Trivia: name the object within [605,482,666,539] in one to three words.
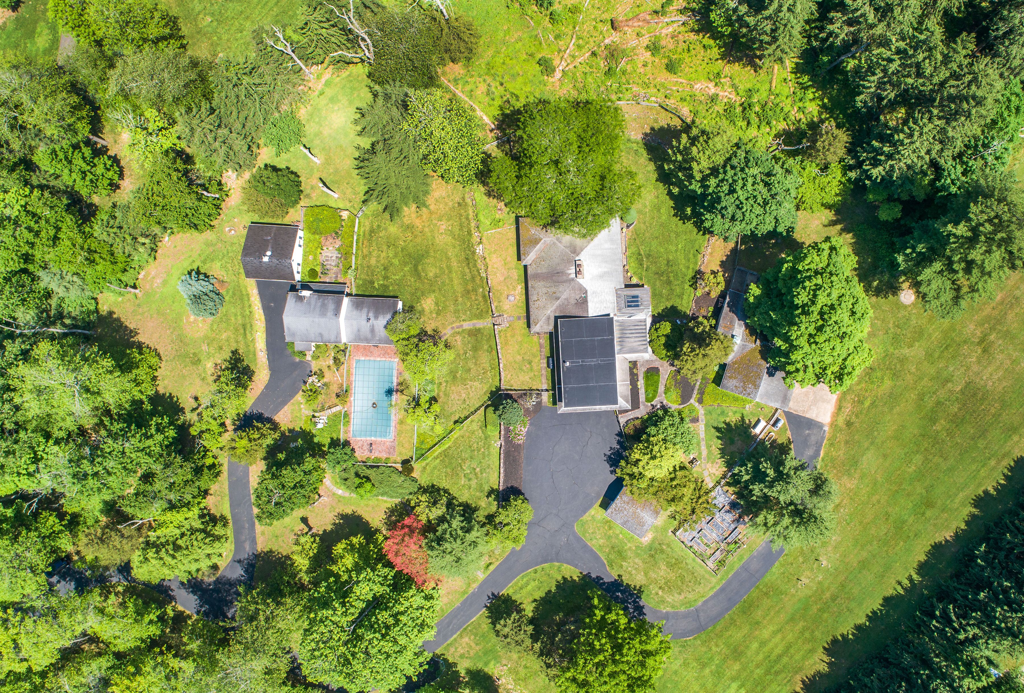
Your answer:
shed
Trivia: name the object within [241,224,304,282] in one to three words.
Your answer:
building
